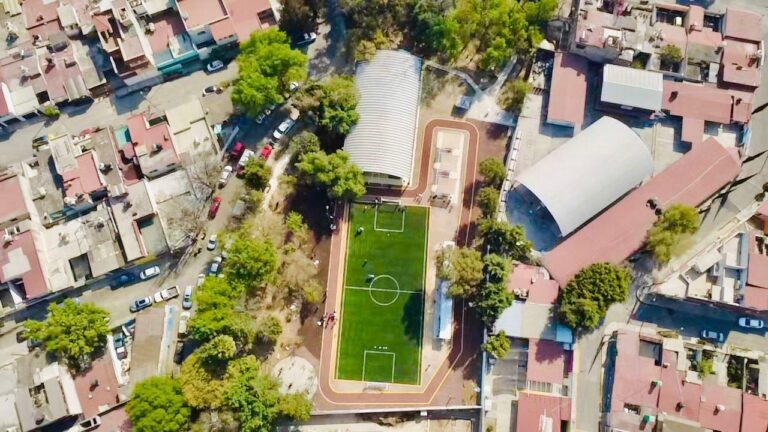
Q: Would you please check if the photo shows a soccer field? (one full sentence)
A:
Yes, the photo shows a soccer field.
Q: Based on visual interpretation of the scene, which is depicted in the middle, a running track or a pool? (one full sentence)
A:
What appears in the middle is a running track.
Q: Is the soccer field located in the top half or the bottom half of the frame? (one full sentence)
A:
The soccer field sits in the bottom half of the picture.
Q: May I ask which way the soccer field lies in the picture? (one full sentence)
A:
What the image shows is the soccer field lying up and down.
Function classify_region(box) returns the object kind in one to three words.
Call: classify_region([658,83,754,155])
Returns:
building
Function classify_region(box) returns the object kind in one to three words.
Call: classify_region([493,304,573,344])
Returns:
house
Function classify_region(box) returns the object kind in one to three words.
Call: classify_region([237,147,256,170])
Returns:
vehicle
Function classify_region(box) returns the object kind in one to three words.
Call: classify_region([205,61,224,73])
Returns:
vehicle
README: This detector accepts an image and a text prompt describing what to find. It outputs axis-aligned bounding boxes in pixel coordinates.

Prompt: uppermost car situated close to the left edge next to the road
[30,136,50,148]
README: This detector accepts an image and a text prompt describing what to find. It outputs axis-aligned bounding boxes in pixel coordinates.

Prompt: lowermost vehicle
[64,412,100,432]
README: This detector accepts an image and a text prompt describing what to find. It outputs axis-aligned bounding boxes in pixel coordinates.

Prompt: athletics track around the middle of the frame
[320,118,479,404]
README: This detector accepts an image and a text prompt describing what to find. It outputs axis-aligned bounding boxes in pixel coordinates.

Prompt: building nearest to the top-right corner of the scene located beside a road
[714,9,763,45]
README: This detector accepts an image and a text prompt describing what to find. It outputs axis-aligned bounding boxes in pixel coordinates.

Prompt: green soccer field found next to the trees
[333,203,430,387]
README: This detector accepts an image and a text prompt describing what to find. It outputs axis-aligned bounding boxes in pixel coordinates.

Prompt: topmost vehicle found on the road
[295,32,316,45]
